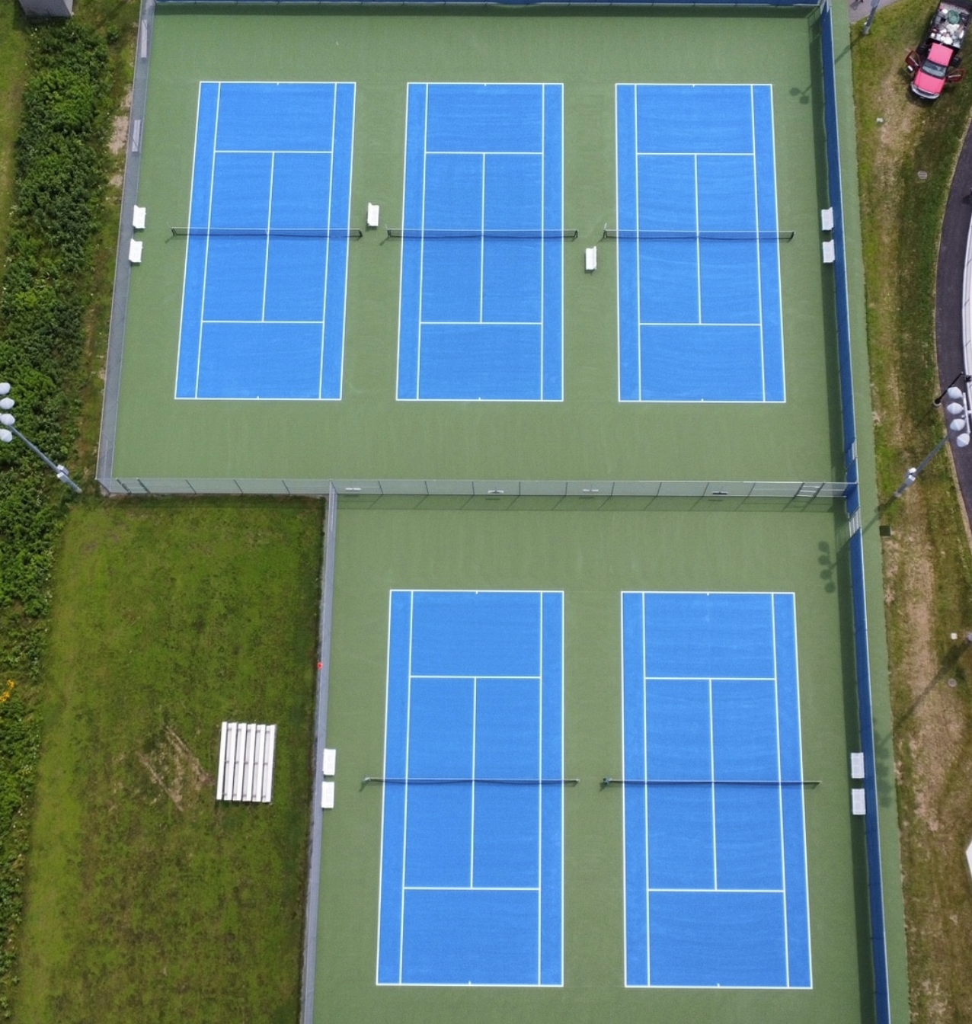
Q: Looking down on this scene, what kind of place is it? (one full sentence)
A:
This image shows a sports ground.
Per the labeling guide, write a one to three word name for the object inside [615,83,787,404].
tennis court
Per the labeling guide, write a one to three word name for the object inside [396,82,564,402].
tennis court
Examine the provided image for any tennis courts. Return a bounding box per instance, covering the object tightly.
[615,83,787,404]
[376,590,564,988]
[175,81,356,401]
[620,591,813,991]
[396,82,564,402]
